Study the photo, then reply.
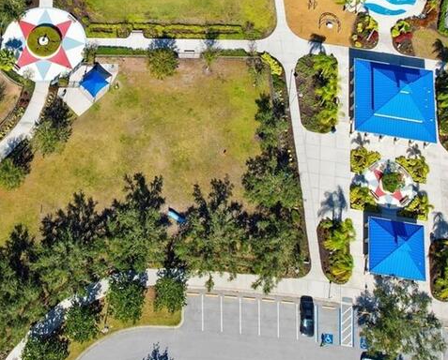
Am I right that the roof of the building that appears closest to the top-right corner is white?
No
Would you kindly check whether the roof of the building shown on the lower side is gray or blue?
blue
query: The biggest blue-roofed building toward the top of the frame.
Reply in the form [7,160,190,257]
[352,59,437,147]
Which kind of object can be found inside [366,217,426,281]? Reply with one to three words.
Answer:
building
